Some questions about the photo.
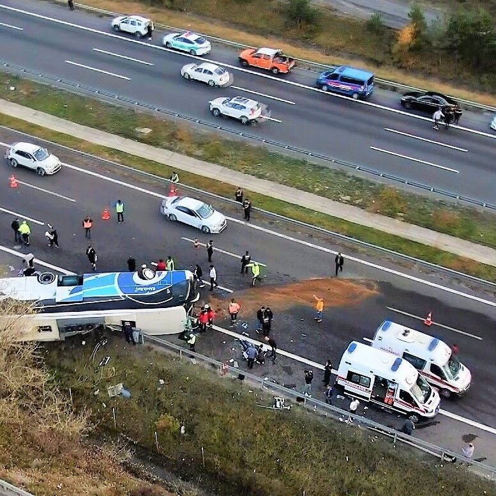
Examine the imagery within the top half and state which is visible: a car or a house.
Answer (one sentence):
It is a car that can be seen within the top half.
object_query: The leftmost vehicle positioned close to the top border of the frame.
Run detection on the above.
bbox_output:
[108,14,156,41]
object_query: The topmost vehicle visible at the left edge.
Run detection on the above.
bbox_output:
[4,141,61,177]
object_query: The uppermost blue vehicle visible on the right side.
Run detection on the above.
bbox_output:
[315,67,379,103]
